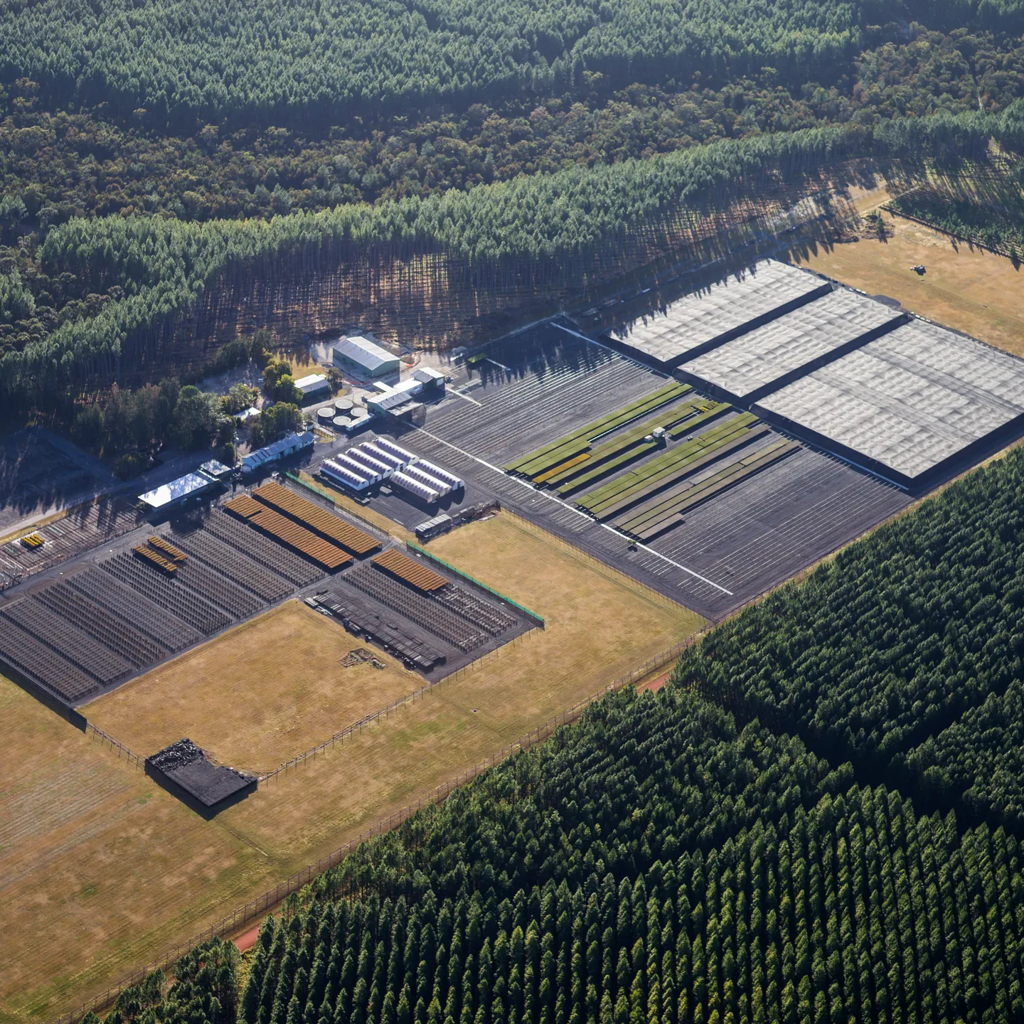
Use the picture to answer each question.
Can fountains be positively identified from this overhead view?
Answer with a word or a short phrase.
No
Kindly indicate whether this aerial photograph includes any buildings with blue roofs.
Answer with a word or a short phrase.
Yes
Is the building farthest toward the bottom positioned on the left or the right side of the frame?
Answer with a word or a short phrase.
left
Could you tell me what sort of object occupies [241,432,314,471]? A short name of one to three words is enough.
building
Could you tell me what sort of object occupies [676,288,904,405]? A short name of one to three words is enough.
house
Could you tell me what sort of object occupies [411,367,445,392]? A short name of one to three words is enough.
shed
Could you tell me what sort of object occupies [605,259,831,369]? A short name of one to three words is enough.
house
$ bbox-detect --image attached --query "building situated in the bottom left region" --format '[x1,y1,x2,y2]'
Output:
[145,737,258,811]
